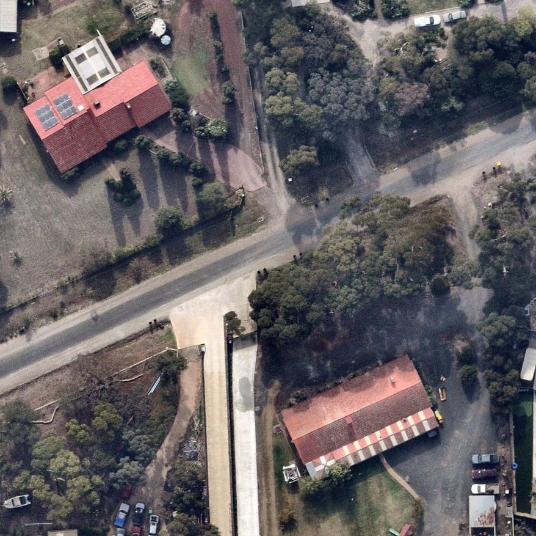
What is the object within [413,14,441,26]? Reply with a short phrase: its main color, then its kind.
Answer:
white vehicle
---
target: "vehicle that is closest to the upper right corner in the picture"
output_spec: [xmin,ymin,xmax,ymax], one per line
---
[446,9,468,22]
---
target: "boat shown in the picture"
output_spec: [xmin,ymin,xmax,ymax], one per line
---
[1,494,32,506]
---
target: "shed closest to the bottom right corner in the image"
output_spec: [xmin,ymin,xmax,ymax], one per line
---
[470,496,495,528]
